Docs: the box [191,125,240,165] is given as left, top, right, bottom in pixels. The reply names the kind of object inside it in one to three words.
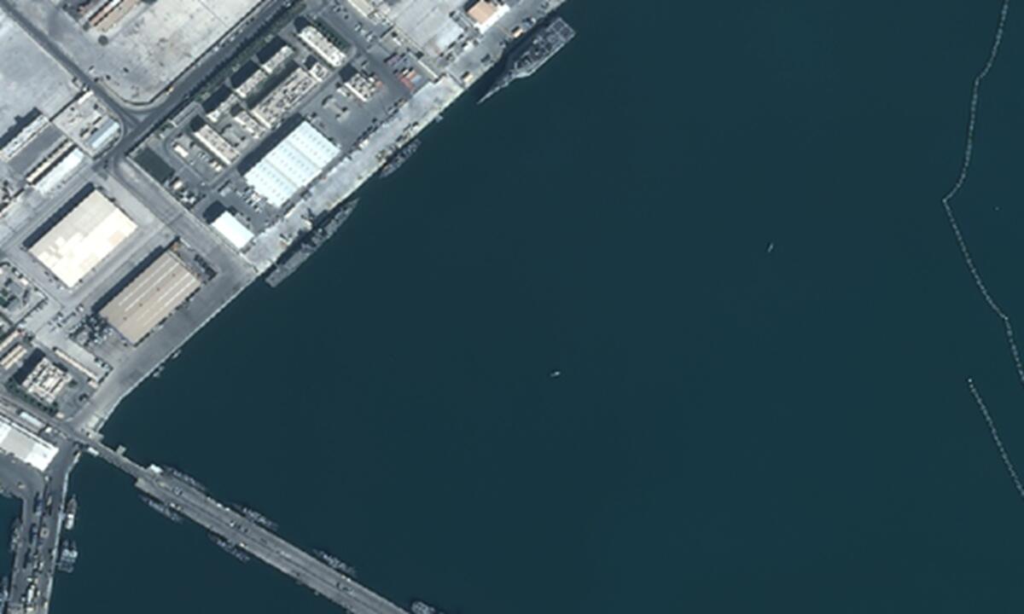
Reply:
building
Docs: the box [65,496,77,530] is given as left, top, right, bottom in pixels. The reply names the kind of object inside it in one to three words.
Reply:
boat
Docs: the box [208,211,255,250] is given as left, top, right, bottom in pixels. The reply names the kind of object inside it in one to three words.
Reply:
shed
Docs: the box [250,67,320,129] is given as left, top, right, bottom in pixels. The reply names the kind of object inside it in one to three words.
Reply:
building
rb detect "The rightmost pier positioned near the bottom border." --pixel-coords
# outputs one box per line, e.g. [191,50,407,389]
[136,469,408,614]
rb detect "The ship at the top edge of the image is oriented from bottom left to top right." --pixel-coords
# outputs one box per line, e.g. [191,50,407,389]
[476,17,575,103]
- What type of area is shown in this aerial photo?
port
